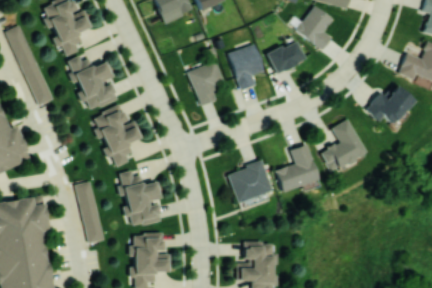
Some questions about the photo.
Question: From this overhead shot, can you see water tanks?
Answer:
No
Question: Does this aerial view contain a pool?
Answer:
No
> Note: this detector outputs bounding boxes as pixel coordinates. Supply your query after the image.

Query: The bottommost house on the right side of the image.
[240,242,281,288]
